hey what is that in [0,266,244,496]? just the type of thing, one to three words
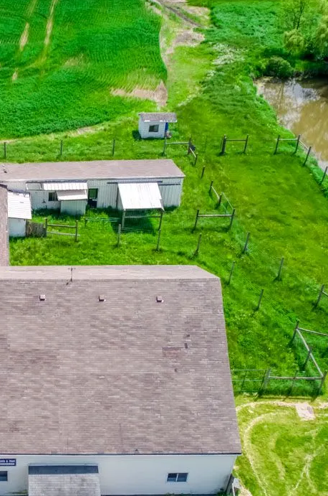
building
